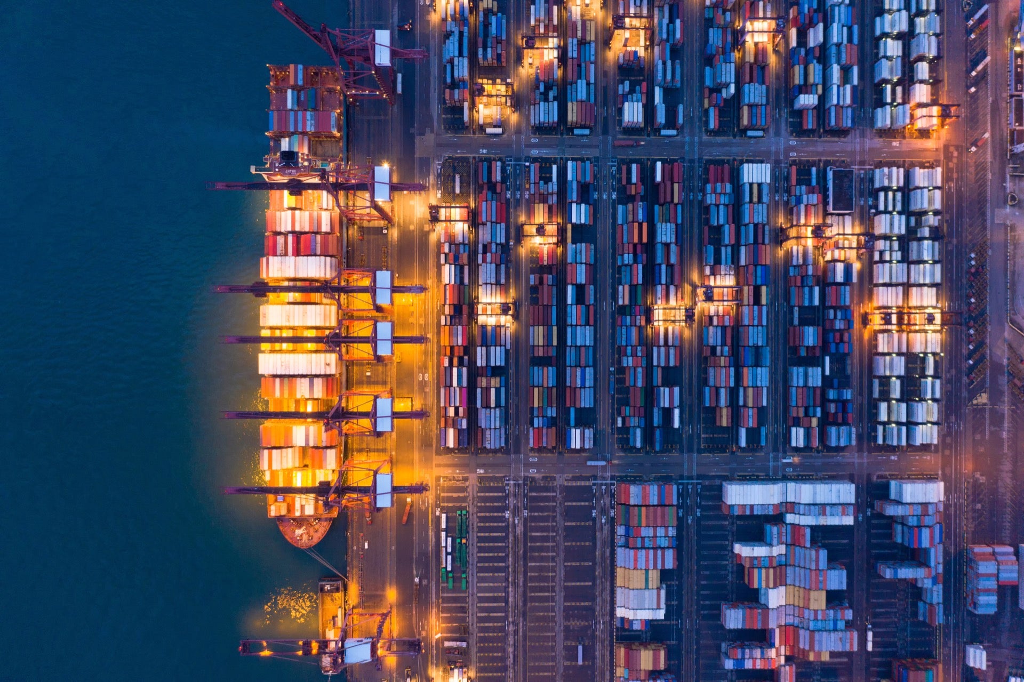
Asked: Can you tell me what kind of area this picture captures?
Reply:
port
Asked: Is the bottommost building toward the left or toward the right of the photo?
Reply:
right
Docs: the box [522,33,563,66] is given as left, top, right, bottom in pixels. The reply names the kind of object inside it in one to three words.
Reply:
container crane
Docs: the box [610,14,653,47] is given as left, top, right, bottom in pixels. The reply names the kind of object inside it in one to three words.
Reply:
container crane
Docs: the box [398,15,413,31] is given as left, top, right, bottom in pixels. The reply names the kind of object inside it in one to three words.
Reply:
work vehicle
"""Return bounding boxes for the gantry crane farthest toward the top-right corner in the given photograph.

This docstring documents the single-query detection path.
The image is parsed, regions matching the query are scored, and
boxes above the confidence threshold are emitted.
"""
[899,102,956,131]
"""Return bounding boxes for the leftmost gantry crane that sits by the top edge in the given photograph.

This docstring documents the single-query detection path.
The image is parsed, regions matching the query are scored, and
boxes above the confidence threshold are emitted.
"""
[275,1,434,98]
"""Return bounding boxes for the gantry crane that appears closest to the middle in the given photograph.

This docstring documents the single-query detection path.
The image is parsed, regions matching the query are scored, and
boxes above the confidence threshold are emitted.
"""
[475,299,518,321]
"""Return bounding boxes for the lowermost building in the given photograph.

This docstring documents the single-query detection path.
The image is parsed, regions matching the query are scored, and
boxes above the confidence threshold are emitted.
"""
[826,169,855,213]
